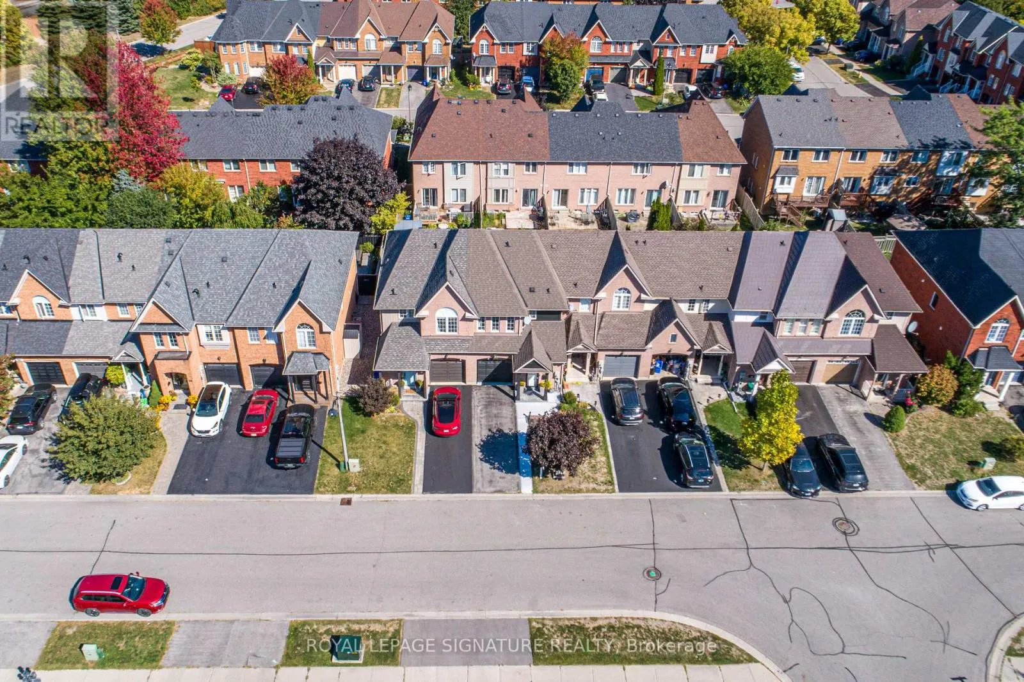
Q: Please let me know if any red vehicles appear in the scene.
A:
Yes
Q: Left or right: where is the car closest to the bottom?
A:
left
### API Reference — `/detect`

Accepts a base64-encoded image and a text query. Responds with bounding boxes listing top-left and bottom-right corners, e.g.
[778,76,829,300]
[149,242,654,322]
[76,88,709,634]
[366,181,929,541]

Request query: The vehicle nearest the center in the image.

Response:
[431,388,465,437]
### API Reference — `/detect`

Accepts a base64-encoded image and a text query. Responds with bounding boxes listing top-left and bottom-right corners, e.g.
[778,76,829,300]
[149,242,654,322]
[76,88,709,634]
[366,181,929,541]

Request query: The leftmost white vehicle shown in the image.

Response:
[0,432,33,488]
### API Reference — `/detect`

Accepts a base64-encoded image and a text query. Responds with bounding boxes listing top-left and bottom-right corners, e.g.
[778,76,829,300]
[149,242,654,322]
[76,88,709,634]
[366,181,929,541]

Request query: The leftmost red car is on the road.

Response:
[68,568,170,615]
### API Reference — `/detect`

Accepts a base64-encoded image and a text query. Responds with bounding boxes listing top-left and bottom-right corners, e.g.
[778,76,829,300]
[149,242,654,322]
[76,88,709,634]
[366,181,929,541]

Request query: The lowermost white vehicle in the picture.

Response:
[959,473,1024,509]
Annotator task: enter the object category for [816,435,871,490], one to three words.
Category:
car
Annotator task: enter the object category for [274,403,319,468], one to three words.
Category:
truck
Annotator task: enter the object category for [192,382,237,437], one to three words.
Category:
car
